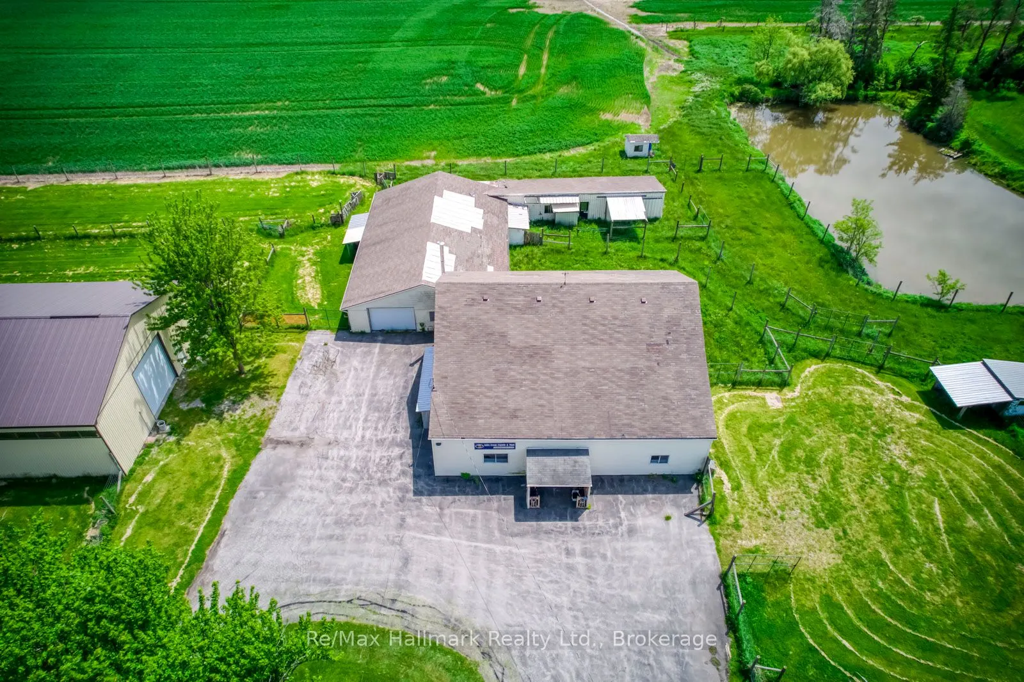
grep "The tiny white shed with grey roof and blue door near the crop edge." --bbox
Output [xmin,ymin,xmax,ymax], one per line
[623,131,660,157]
